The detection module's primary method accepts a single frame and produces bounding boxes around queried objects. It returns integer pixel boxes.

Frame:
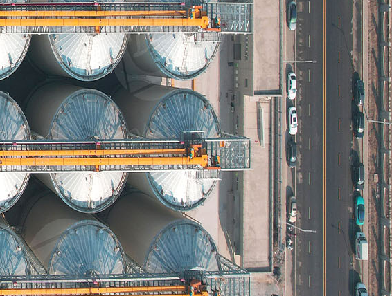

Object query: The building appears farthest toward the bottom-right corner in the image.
[232,93,272,273]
